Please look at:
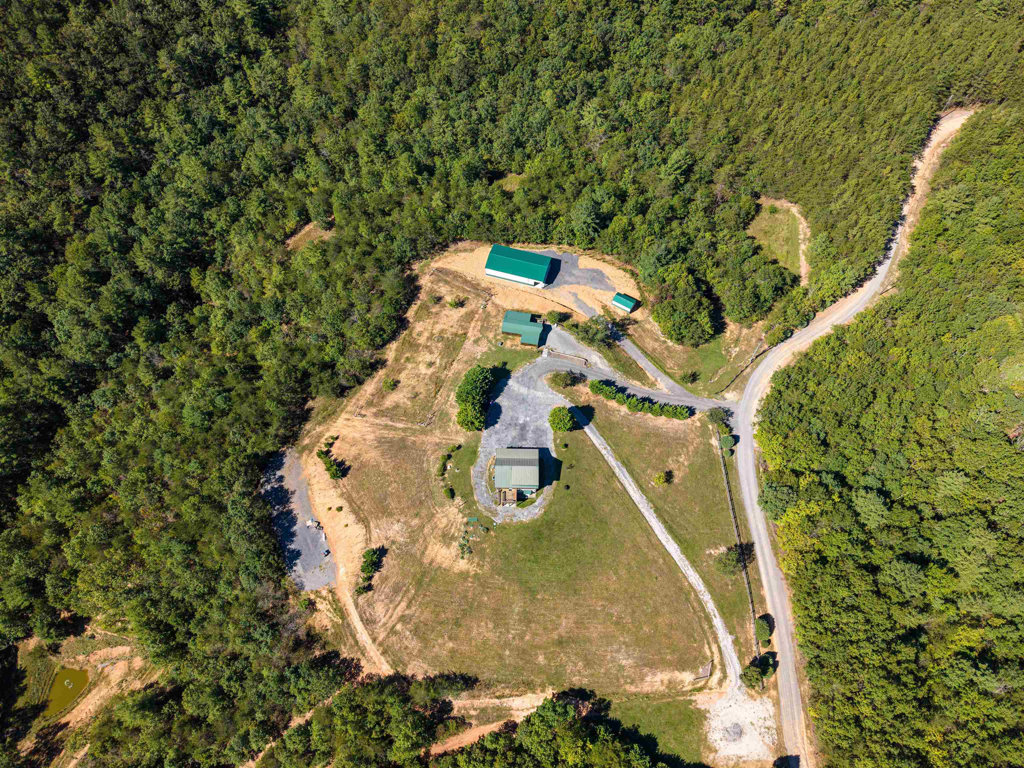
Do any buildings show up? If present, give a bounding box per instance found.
[483,243,552,290]
[495,448,539,510]
[501,311,546,351]
[612,291,638,314]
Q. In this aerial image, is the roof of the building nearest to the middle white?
No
